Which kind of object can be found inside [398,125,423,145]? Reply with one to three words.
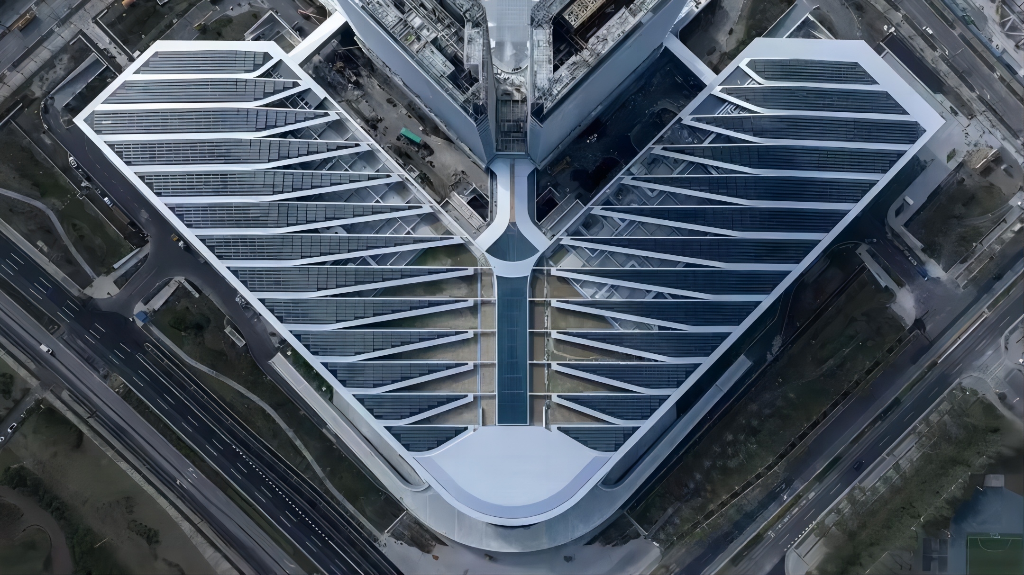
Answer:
vehicle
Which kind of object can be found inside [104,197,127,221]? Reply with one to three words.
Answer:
truck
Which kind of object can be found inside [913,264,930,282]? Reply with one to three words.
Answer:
vehicle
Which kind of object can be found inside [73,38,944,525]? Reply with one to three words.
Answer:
building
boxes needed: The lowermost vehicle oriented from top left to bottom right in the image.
[38,343,54,355]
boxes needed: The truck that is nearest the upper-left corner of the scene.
[6,12,37,34]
